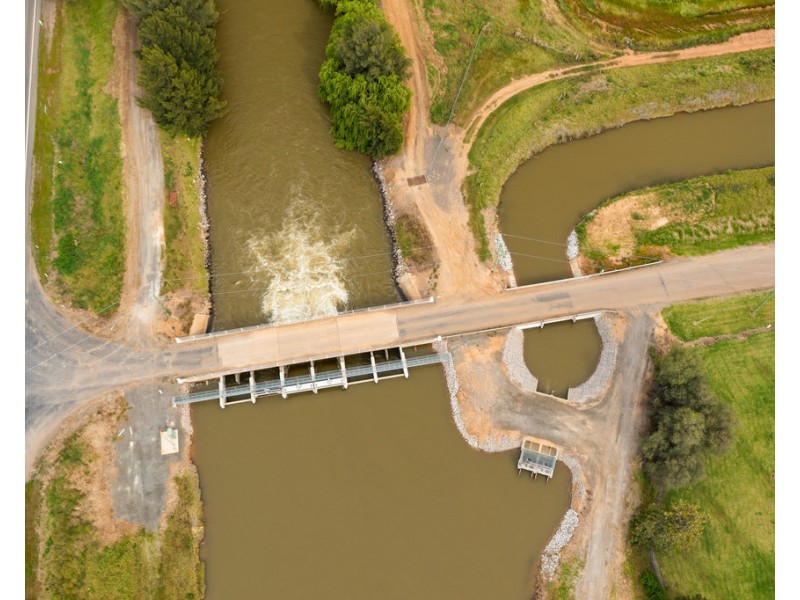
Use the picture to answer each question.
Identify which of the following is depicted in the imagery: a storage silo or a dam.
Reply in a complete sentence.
This aerial view contains a dam.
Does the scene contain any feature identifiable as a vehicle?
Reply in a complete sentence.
No, I can't see a single vehicle in this photo.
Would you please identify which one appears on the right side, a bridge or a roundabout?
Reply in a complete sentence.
The feature located on the right side is a bridge.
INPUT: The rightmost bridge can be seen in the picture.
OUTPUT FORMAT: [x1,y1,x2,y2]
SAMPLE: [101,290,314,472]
[505,254,662,335]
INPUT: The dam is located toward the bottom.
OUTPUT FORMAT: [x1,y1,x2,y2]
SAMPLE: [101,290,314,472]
[220,346,409,412]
